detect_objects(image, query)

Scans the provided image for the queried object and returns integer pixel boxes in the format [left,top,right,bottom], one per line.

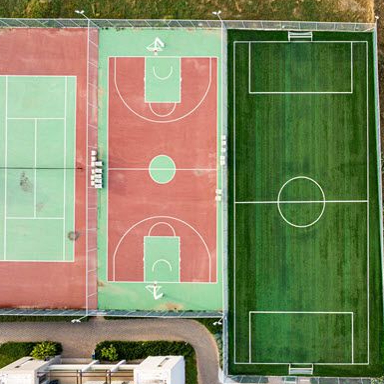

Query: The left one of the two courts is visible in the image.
[0,27,98,310]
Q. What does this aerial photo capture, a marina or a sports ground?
sports ground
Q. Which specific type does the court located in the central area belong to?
basketball court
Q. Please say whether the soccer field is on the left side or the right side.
right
